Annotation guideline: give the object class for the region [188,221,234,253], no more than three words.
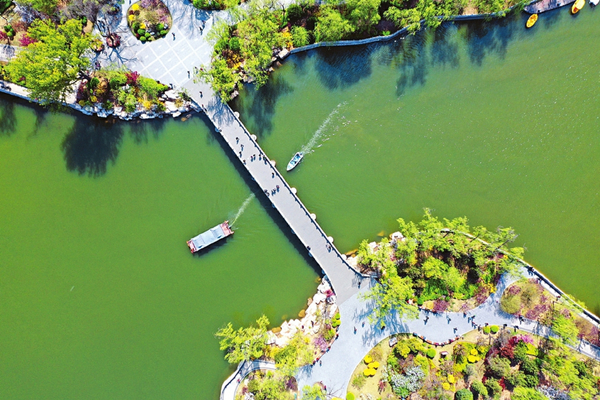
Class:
boat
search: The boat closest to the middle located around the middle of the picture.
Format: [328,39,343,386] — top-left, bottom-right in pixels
[287,151,304,170]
